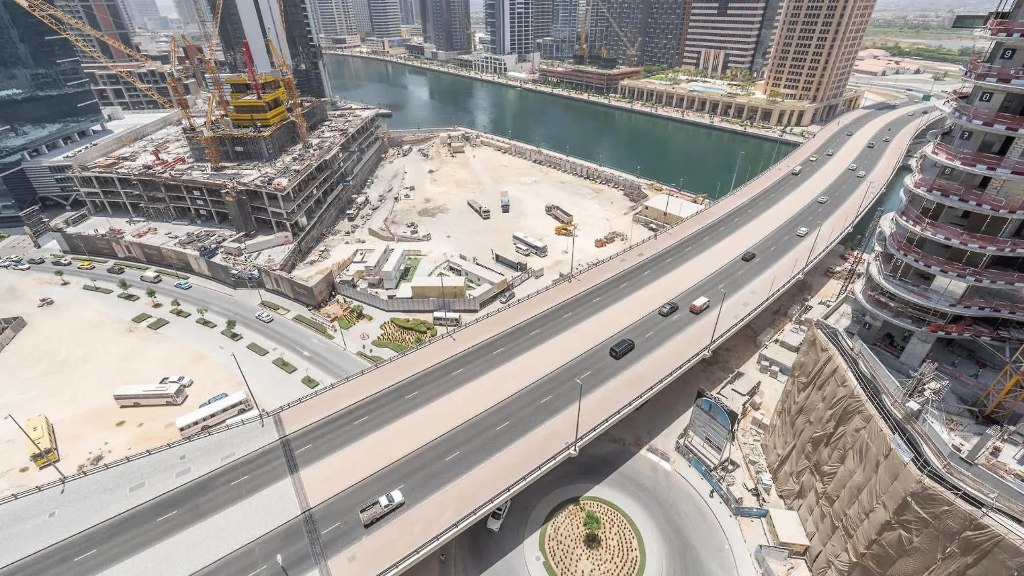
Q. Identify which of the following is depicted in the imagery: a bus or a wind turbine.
bus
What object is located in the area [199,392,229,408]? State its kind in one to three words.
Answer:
car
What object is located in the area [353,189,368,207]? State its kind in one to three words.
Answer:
vehicle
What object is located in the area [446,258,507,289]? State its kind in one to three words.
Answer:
building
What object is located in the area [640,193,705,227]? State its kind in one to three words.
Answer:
building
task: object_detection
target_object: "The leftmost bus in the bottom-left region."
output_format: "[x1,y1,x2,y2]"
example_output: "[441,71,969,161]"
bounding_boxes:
[22,415,53,463]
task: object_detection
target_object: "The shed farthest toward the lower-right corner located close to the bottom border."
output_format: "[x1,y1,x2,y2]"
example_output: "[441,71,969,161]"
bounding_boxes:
[765,508,812,557]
